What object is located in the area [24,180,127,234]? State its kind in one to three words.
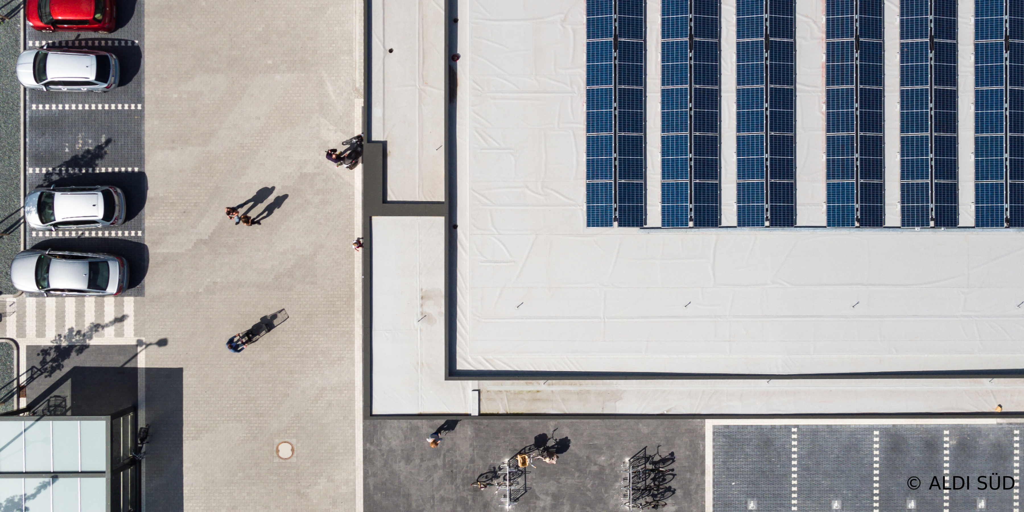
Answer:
car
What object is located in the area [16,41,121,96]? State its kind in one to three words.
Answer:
car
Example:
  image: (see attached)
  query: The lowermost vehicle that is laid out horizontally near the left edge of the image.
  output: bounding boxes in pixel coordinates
[9,245,131,302]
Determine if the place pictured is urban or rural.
urban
